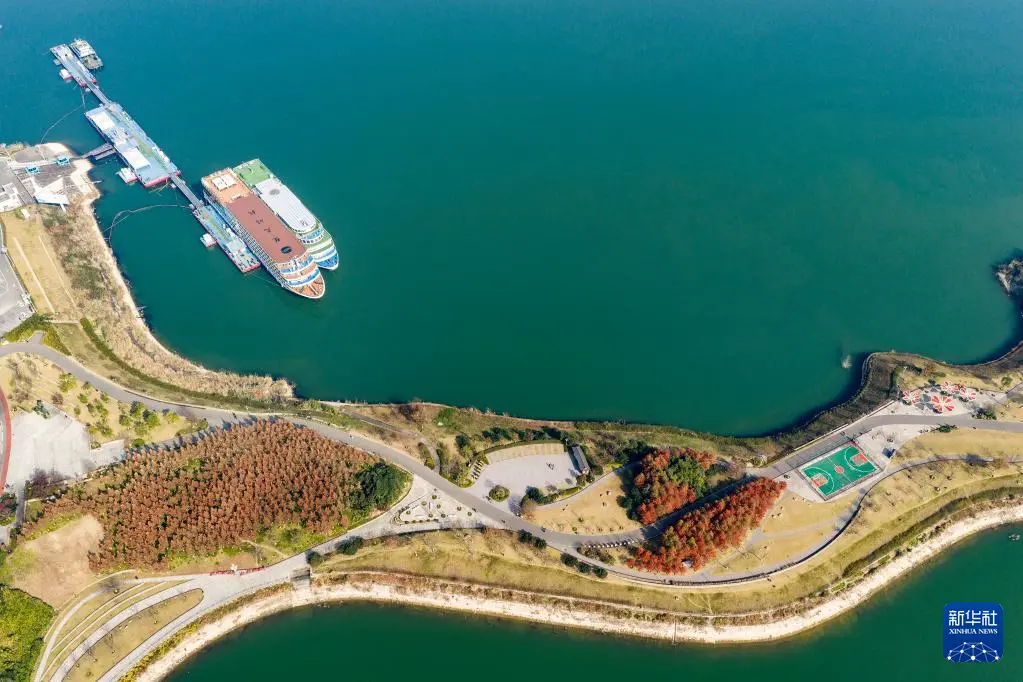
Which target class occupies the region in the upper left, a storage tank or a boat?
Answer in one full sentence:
What appears in the upper left is a boat.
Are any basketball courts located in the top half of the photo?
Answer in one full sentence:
No, there is no basketball court in the top half of the photo.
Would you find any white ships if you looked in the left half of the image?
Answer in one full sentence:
Yes, there is a white ship in the left half of the image.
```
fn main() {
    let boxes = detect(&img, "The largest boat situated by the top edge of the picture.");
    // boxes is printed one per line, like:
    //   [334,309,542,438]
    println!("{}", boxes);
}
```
[67,34,103,70]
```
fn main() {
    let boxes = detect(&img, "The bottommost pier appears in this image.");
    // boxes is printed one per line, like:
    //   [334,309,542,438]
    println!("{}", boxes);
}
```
[191,206,261,274]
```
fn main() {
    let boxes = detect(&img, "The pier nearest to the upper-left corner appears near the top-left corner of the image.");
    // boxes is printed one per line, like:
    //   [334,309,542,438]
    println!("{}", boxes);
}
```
[51,44,98,87]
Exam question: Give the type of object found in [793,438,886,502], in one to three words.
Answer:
basketball court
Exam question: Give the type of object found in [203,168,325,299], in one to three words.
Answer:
ship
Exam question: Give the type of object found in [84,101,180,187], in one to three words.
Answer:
pier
